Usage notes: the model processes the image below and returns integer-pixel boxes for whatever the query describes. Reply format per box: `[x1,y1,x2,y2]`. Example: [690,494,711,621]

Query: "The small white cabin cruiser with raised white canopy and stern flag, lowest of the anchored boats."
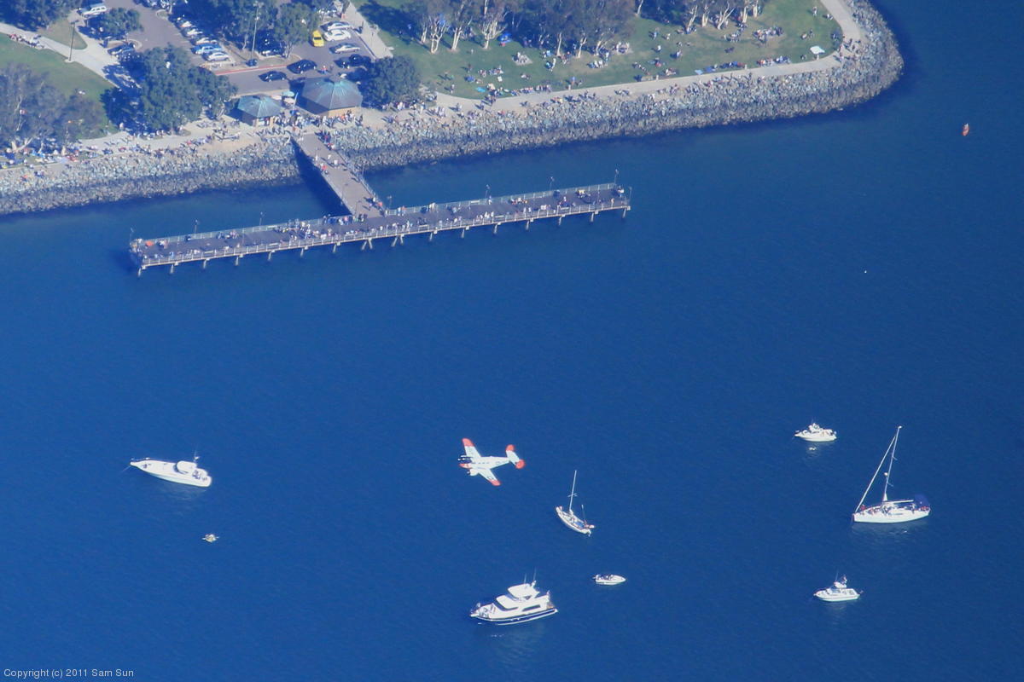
[816,579,862,602]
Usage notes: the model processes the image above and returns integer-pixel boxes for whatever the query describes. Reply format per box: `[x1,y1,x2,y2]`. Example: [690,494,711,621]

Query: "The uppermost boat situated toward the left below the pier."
[119,457,211,490]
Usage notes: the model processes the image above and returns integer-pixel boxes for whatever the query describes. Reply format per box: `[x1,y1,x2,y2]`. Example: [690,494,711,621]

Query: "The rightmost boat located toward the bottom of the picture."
[856,428,933,520]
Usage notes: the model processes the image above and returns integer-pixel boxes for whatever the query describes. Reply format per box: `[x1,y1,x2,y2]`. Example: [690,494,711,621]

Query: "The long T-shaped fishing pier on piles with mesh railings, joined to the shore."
[128,125,632,281]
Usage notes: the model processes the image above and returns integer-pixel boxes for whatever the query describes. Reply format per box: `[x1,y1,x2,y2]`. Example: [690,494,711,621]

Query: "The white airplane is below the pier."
[457,439,524,489]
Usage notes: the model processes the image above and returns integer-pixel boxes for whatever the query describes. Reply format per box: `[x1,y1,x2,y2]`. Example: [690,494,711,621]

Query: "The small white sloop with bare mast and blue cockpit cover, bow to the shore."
[559,469,594,533]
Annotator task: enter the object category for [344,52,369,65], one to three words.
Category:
vehicle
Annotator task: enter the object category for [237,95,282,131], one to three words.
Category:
building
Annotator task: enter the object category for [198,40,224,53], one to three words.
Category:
vehicle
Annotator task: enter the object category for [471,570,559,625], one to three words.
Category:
boat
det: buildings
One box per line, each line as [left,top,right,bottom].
[301,78,364,124]
[237,95,282,131]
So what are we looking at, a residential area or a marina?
marina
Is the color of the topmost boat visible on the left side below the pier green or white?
white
